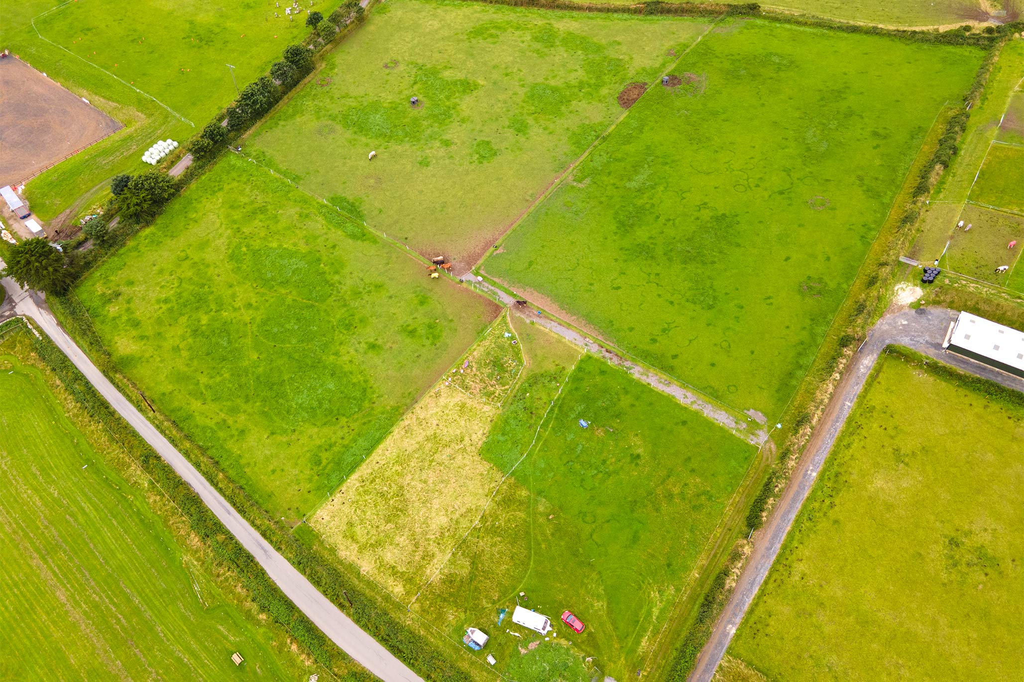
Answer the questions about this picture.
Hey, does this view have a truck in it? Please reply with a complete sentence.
Yes, this view includes a truck.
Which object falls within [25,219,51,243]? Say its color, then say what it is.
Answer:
white truck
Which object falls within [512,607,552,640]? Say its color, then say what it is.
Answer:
white camper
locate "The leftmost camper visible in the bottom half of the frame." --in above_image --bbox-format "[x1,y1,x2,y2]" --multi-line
[464,628,489,648]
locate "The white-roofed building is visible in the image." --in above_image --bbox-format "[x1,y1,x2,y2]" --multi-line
[946,310,1024,381]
